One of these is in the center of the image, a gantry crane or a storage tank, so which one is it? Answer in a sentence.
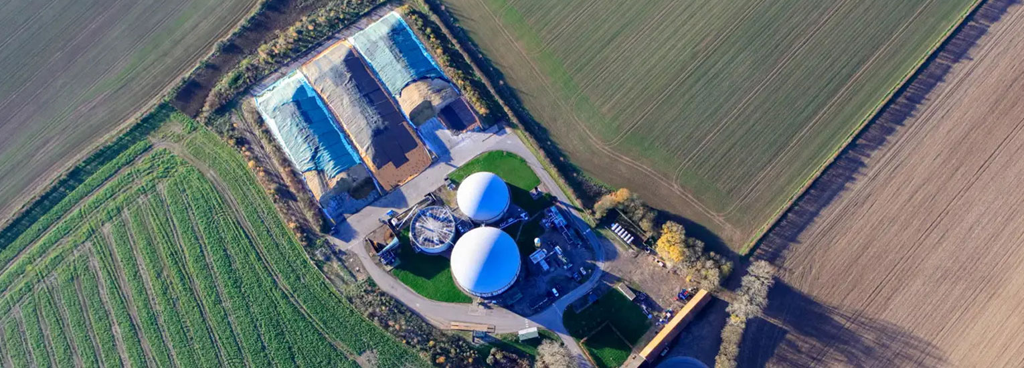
It is a storage tank that can be seen in the center of the image.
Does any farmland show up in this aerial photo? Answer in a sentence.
Yes, the picture does contain farmland.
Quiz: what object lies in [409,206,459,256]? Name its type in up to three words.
storage tank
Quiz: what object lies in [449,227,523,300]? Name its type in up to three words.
storage tank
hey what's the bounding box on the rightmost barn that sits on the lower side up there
[635,287,712,364]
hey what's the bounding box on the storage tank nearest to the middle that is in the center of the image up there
[455,171,511,226]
